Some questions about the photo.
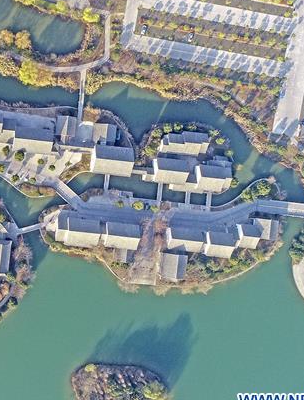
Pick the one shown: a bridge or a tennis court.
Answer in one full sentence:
It is a bridge that can be seen here.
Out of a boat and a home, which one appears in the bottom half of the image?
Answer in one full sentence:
There is a home in the bottom half of the image.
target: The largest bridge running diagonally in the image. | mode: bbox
[46,172,90,216]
